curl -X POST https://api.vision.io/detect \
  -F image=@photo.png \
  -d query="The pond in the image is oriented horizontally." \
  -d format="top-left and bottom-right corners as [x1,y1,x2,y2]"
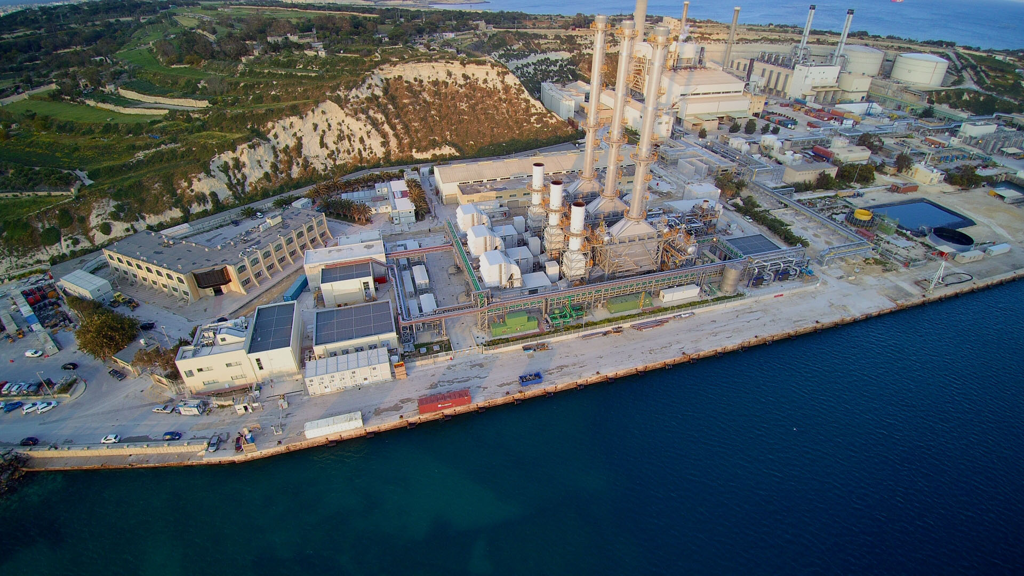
[873,196,977,236]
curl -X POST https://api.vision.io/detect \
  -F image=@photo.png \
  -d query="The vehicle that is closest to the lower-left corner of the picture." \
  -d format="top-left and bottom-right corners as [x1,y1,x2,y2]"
[15,435,42,448]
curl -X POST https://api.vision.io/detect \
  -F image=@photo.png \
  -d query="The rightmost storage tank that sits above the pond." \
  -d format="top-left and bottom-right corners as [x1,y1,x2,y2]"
[889,54,956,84]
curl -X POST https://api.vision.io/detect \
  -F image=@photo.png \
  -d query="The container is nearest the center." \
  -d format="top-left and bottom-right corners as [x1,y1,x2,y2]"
[488,306,537,336]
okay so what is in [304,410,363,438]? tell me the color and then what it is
white shipping container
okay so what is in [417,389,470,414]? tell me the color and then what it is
red shipping container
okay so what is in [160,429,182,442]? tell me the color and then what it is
blue vehicle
